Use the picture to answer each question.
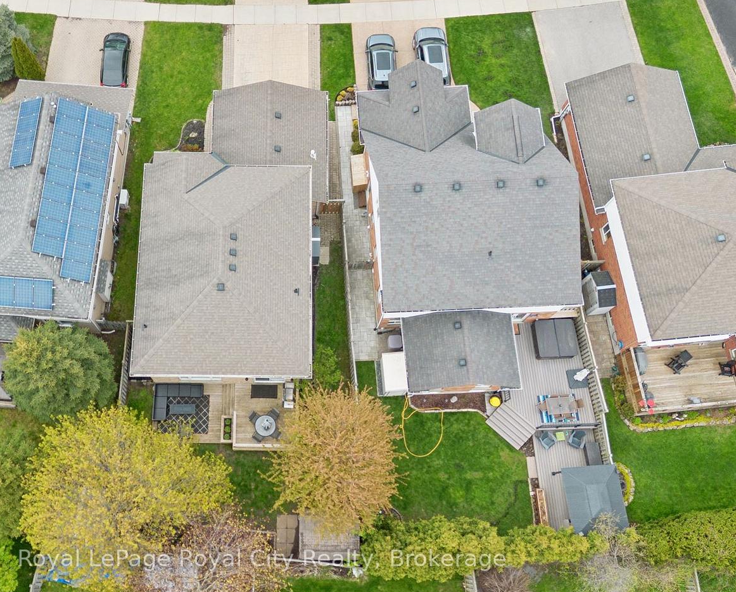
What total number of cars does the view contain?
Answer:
3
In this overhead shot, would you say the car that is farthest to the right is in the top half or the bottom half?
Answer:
top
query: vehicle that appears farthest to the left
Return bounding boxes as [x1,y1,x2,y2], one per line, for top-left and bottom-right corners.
[99,33,132,88]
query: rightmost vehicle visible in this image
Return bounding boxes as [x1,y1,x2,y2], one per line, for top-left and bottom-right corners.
[412,27,455,85]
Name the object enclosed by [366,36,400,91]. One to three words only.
car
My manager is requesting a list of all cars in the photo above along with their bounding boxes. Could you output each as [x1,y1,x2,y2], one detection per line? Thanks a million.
[366,36,400,91]
[99,33,132,88]
[412,27,455,85]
